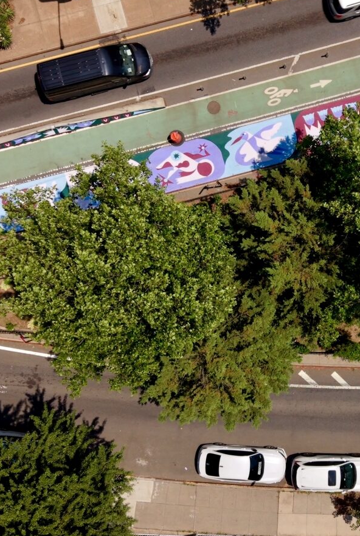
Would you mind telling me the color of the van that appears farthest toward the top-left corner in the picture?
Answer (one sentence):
From above, the van that appears farthest toward the top-left corner appears black.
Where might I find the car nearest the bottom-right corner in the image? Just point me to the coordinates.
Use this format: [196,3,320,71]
[289,449,360,496]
